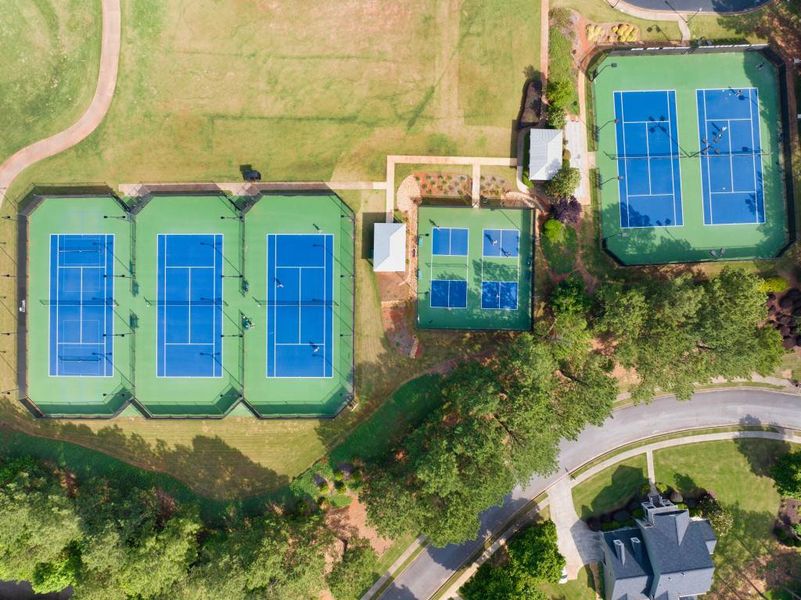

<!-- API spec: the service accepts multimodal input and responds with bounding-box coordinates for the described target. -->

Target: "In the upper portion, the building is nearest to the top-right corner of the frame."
[527,129,562,182]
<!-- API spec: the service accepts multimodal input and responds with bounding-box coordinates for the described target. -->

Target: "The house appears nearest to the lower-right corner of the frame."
[596,485,718,600]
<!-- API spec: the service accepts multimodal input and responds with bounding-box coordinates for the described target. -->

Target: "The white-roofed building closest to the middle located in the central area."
[374,223,406,272]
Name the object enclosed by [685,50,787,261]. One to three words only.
tennis court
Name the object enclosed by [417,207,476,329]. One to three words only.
sports court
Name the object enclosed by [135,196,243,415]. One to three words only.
tennis court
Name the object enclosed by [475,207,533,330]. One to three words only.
sports court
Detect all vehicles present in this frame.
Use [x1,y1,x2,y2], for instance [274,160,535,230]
[555,568,568,588]
[242,168,259,180]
